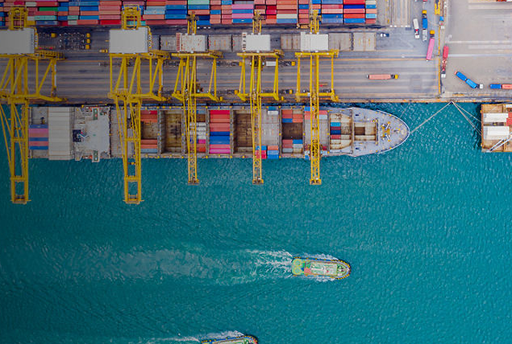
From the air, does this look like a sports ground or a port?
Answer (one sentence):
This looks like a port.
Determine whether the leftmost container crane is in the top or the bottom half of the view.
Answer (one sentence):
It is in the top half that the leftmost container crane appears.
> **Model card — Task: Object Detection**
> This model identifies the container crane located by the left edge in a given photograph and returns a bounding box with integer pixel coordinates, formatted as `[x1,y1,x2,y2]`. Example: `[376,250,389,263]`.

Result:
[0,5,66,203]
